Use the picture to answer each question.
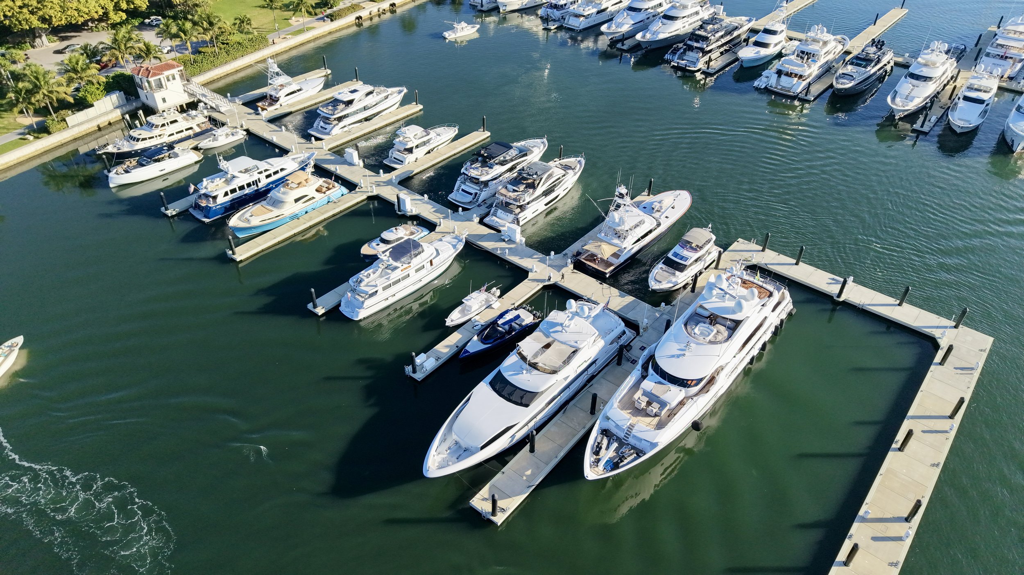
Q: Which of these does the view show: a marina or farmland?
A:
marina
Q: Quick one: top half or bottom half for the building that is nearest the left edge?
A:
top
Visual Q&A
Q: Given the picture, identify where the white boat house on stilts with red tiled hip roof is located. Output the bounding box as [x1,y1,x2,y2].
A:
[129,60,200,112]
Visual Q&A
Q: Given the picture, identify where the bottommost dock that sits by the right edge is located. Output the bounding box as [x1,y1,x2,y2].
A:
[829,339,987,575]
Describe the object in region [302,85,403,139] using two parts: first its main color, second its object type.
white boat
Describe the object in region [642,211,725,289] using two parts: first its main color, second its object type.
white boat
